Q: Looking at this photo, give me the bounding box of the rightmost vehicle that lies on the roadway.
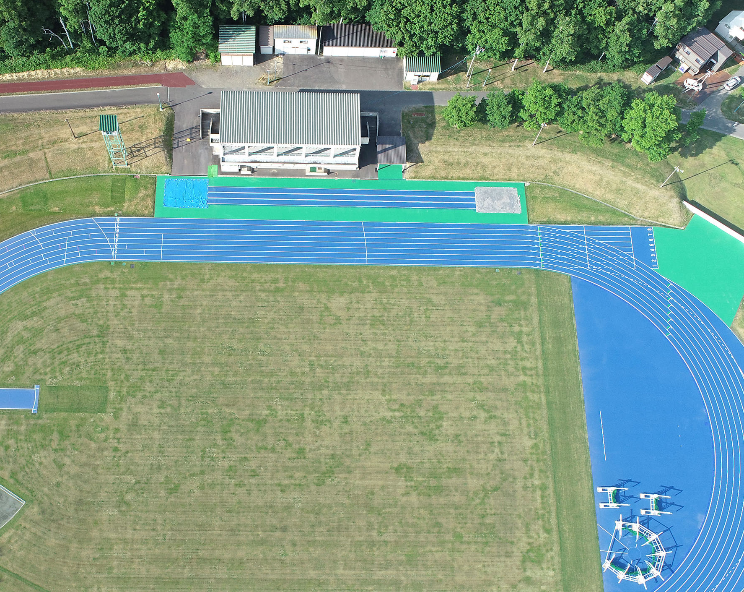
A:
[726,76,743,91]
